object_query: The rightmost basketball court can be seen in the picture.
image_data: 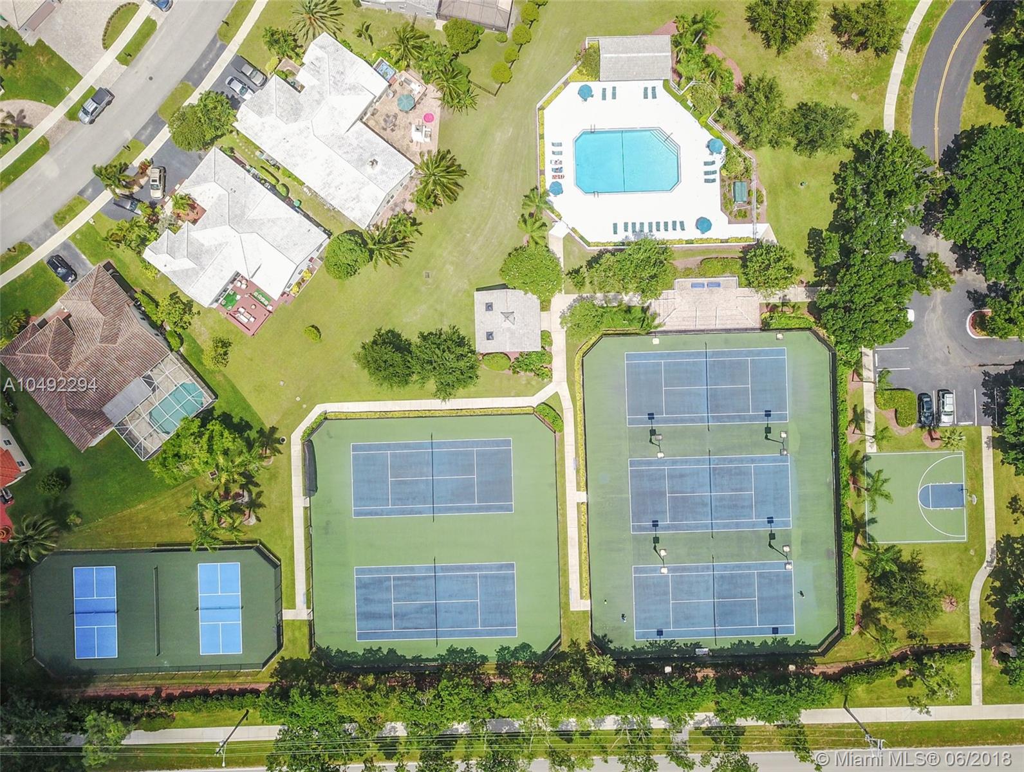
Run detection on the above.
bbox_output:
[864,451,968,544]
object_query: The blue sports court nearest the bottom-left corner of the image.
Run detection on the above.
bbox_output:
[68,566,119,659]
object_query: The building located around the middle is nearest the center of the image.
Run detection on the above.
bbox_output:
[474,290,541,353]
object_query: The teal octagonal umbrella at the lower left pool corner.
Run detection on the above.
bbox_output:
[548,181,564,198]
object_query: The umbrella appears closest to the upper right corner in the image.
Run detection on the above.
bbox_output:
[706,140,722,156]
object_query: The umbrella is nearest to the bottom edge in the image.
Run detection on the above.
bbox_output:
[694,218,710,234]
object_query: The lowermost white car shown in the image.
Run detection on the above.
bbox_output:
[935,391,955,423]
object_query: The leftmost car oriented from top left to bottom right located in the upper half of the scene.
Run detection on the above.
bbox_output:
[47,253,79,285]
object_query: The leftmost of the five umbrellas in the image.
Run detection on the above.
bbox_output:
[397,94,415,112]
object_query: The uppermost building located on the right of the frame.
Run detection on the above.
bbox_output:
[600,36,671,87]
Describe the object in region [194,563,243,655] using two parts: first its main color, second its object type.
blue sports court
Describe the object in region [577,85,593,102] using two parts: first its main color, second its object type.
blue umbrella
